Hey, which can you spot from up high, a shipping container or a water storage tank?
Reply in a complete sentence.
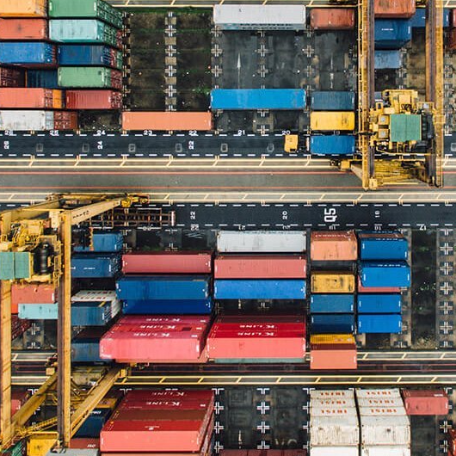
This aerial view contains a shipping container.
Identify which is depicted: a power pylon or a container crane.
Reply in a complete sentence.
There is a container crane in the scene.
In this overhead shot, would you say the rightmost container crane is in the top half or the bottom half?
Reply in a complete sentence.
It is in the top half that the rightmost container crane appears.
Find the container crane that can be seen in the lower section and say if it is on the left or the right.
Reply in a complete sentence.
You can find the container crane that can be seen in the lower section on the left side of the picture.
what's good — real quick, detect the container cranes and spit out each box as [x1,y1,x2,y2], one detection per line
[330,0,446,189]
[0,188,149,456]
